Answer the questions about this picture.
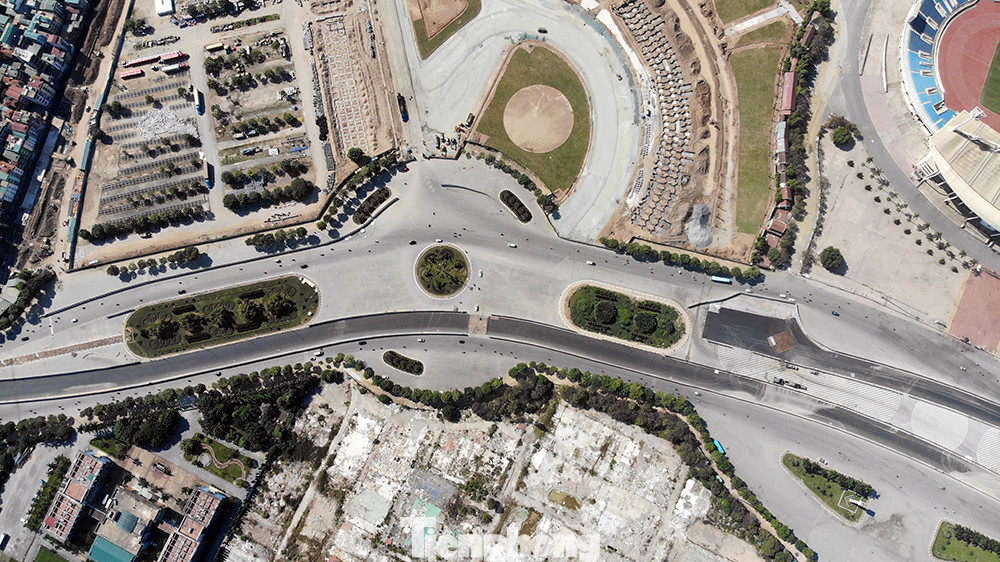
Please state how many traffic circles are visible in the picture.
1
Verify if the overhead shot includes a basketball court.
No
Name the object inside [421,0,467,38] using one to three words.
sports field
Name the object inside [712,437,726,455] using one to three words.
vehicle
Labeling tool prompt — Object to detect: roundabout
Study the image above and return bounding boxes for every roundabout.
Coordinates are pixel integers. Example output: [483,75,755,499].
[413,242,472,300]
